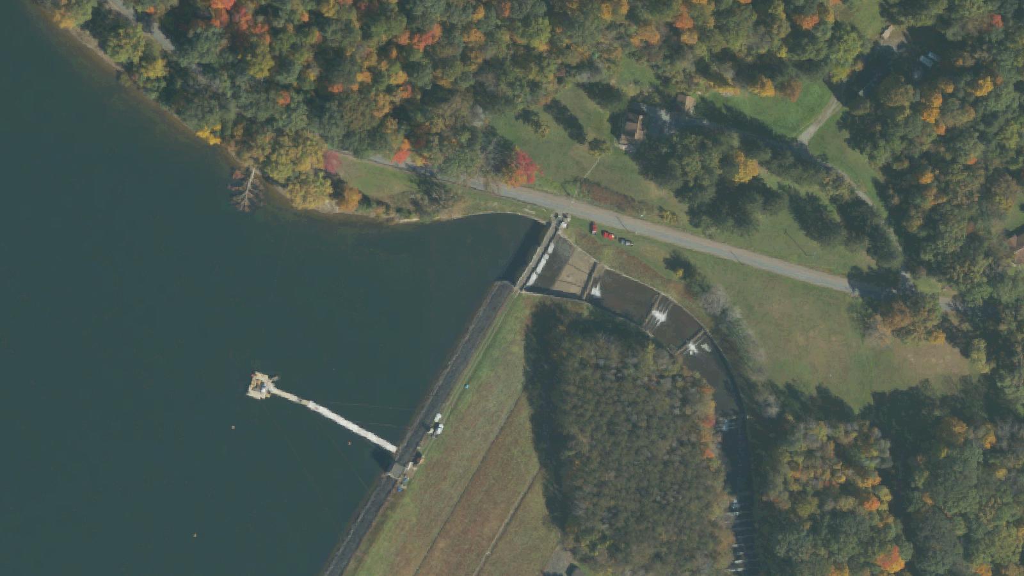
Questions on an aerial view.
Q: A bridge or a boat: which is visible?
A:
bridge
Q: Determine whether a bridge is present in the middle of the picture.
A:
Yes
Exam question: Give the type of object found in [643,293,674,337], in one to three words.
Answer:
dam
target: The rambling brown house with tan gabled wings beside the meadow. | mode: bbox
[619,116,647,147]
